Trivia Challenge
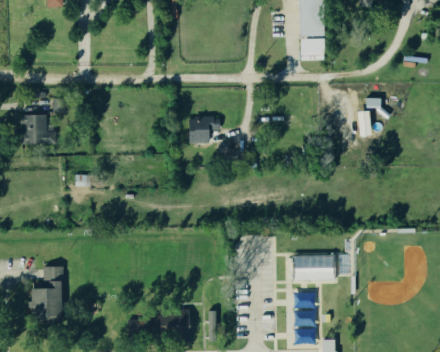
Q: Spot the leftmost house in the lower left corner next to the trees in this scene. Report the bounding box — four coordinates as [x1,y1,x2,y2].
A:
[32,266,64,319]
